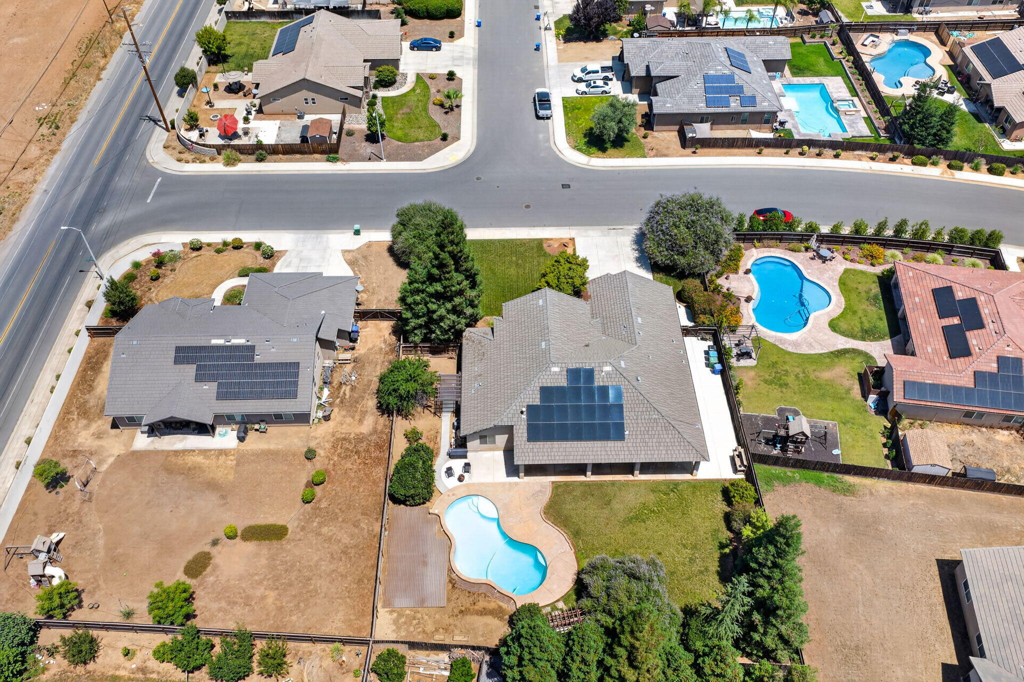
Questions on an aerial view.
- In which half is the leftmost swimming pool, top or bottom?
bottom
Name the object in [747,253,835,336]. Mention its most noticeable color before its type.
blue swimming pool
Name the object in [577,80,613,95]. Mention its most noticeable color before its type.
white car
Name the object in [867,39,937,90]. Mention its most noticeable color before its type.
blue swimming pool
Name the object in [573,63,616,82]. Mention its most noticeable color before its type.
white vehicle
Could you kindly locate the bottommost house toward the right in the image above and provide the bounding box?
[954,544,1024,682]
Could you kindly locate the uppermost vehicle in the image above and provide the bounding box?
[409,37,441,51]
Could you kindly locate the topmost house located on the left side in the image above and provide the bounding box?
[252,9,405,114]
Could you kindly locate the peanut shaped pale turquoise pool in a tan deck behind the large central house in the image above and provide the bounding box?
[441,491,551,599]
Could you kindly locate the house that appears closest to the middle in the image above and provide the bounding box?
[458,270,710,478]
